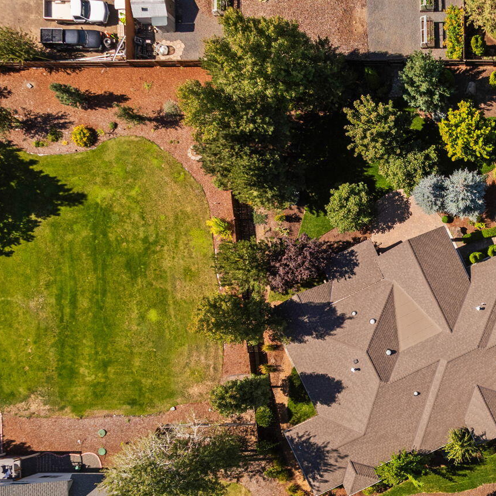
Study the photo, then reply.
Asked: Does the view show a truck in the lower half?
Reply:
No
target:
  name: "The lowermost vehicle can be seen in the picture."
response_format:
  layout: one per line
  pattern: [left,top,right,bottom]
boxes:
[35,23,102,53]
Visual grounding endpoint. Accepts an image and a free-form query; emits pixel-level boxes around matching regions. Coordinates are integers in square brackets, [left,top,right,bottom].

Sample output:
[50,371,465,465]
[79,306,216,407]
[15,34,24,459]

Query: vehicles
[35,23,102,53]
[37,0,108,27]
